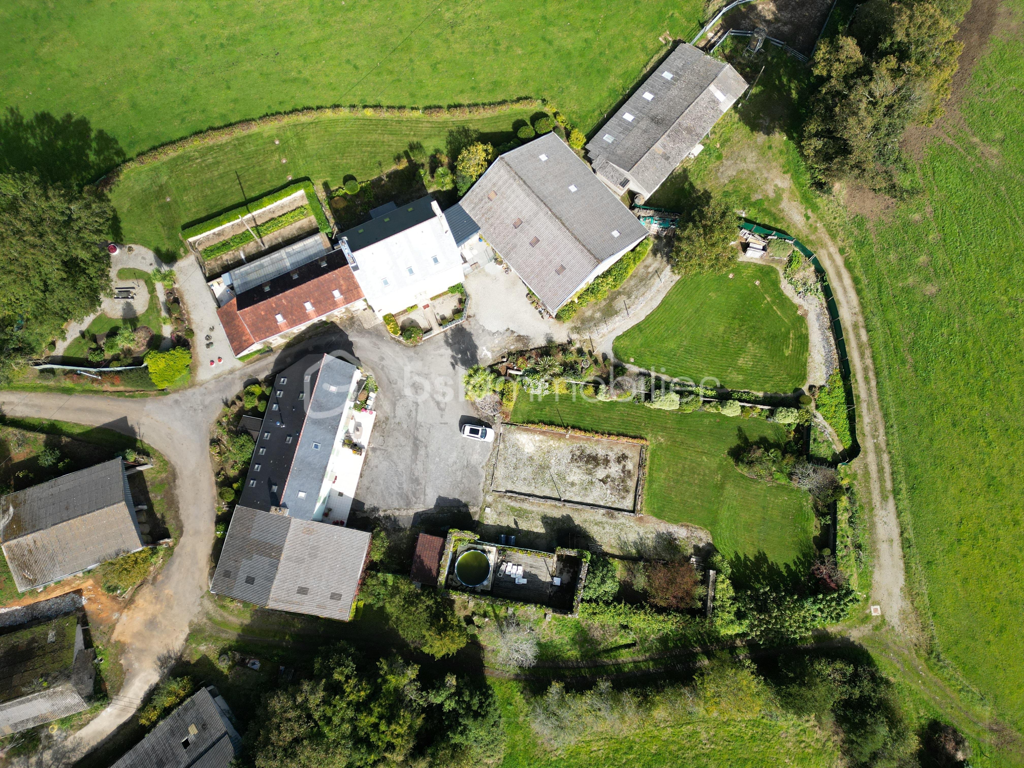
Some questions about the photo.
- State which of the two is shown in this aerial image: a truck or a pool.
pool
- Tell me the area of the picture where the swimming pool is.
bottom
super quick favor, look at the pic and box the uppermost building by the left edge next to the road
[0,456,157,596]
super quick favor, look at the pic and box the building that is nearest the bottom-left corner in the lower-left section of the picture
[0,615,102,734]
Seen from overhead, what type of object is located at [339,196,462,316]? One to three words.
house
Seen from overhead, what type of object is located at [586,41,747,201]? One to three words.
barn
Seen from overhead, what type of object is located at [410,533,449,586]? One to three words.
shed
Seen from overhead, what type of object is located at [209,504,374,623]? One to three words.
barn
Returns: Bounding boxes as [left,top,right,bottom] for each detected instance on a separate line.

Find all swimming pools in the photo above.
[455,550,491,588]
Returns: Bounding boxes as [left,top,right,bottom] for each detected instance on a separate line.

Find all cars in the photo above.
[460,426,494,443]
